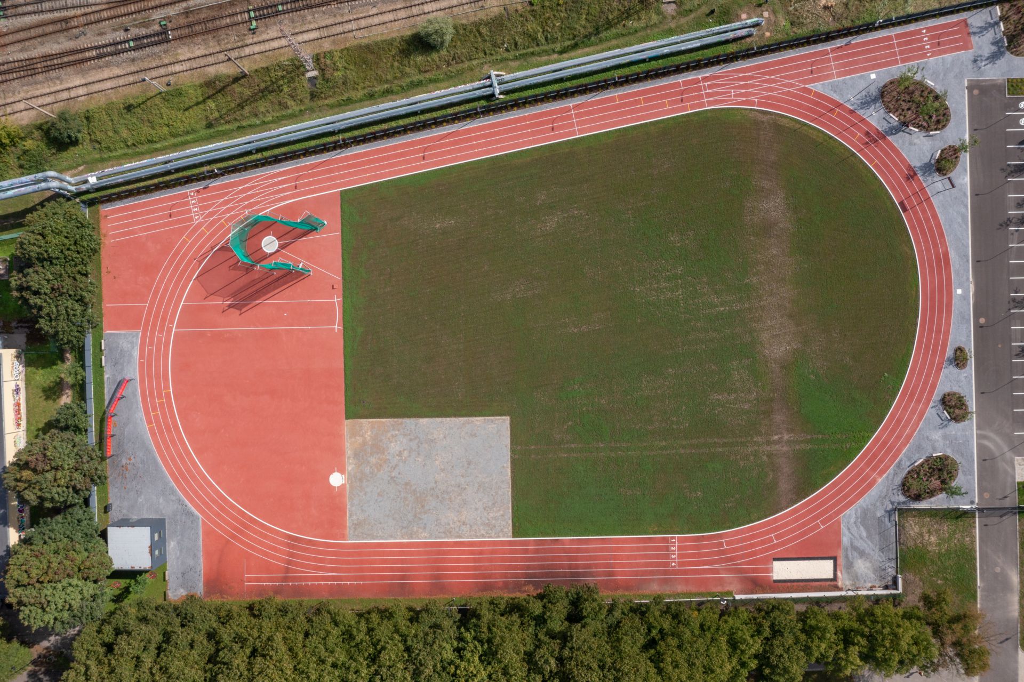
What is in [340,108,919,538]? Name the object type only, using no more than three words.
sports field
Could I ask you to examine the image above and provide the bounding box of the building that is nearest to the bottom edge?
[103,518,167,574]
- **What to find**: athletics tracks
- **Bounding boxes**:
[101,18,973,600]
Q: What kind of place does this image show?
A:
sports ground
